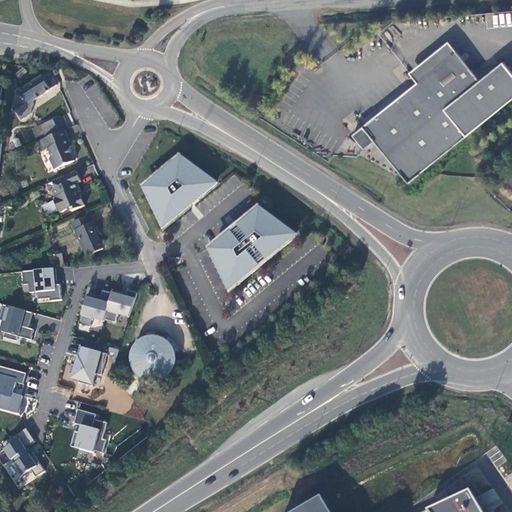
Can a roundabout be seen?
Yes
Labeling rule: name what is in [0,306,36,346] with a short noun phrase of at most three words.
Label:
house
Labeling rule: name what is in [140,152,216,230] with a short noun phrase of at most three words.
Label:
building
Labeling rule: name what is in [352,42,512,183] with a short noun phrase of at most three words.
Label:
building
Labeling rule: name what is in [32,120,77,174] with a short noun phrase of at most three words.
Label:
house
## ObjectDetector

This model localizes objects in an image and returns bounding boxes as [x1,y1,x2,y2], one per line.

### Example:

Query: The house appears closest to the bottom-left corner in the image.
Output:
[5,430,48,490]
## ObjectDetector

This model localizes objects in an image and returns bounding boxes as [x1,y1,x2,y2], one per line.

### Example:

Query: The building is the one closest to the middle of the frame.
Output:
[206,204,296,292]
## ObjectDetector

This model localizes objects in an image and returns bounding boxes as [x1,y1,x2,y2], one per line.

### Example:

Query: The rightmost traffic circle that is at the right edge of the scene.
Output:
[377,210,512,396]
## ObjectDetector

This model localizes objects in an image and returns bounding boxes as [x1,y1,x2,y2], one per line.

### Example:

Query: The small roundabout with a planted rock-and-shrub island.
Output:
[110,41,188,121]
